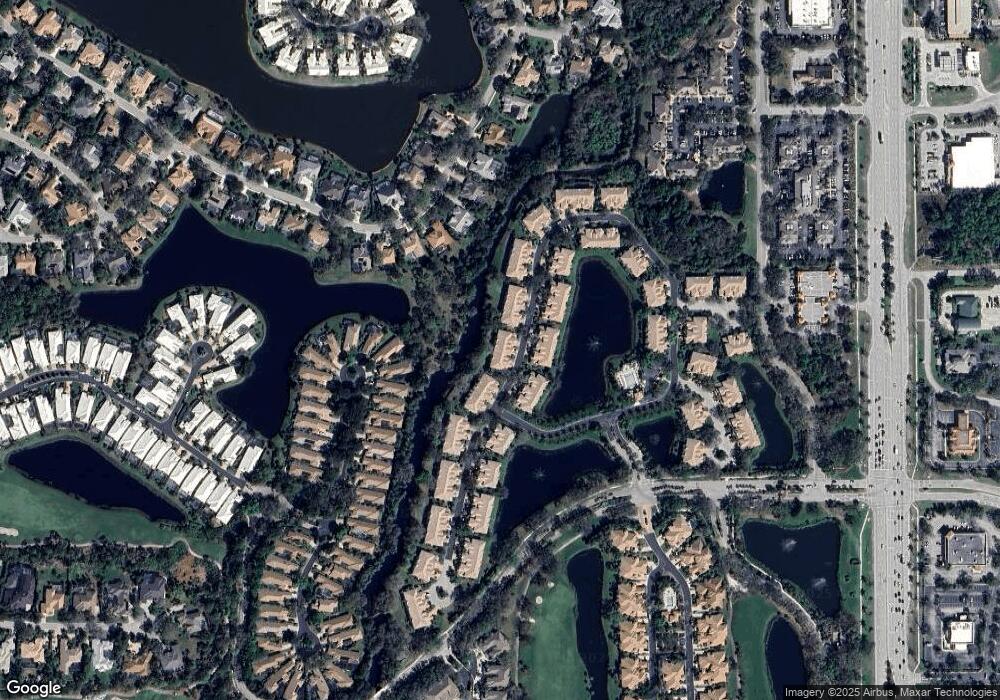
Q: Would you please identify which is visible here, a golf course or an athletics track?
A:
golf course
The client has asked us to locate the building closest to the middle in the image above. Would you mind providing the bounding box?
[488,327,521,372]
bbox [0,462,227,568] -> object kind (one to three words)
golf course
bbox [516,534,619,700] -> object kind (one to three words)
golf course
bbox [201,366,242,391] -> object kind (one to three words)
house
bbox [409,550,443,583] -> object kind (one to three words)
building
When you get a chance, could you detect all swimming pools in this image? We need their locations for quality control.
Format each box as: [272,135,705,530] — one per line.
[618,366,640,390]
[663,588,677,609]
